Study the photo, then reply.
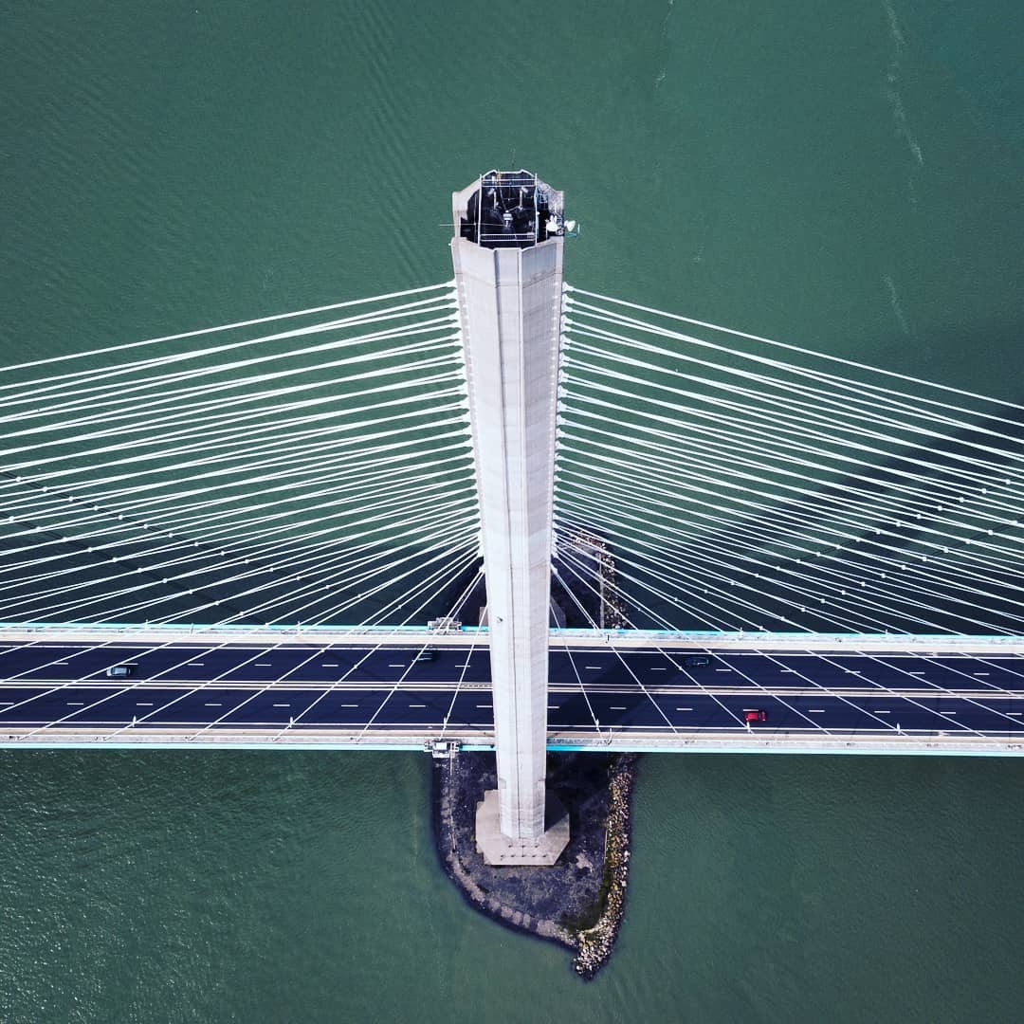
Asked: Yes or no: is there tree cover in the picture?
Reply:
No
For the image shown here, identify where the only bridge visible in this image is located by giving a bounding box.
[0,174,1024,866]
